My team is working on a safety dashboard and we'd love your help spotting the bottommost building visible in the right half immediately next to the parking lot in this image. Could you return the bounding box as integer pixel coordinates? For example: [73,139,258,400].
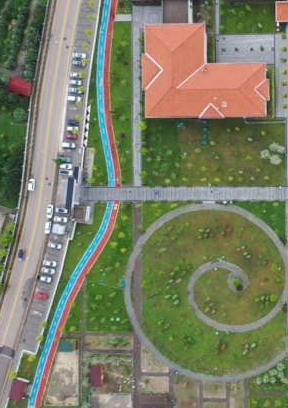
[142,24,269,119]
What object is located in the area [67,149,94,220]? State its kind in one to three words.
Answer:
house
